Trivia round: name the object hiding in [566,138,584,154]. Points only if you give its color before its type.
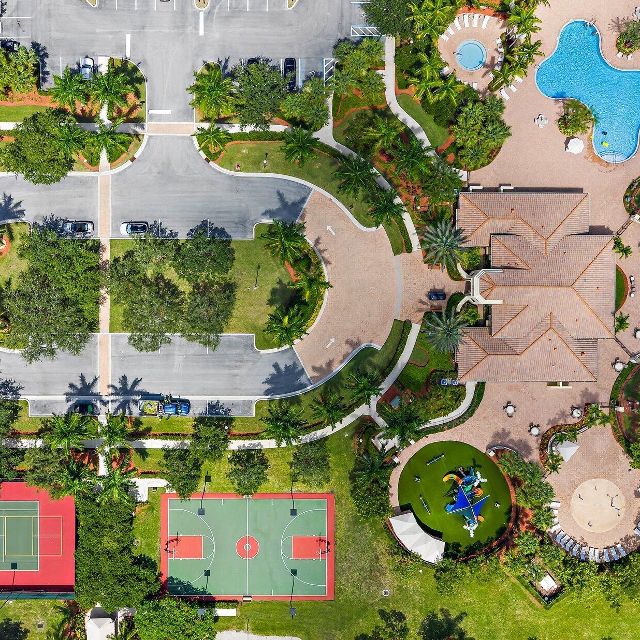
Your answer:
white umbrella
